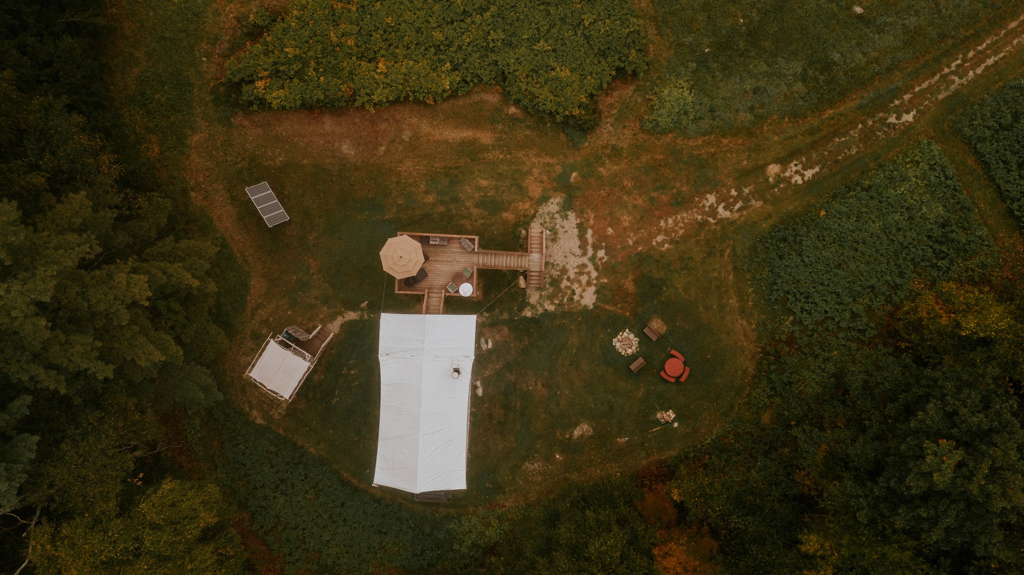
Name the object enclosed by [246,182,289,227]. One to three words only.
solar array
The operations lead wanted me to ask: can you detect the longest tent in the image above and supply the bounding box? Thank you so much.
[373,313,478,502]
